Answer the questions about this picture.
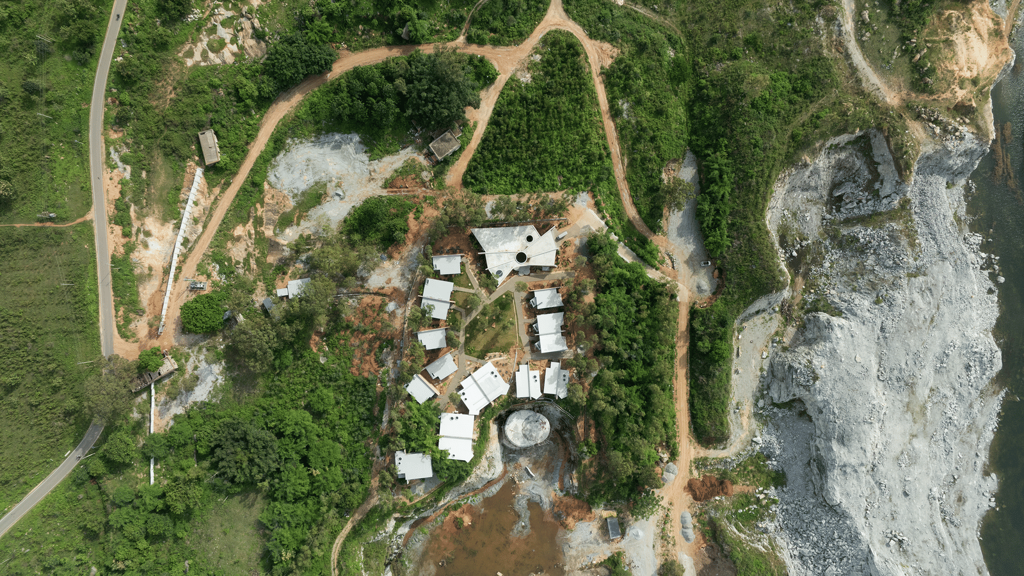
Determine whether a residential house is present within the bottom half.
Yes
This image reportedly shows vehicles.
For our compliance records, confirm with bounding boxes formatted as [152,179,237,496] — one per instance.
[701,261,711,266]
[556,232,567,240]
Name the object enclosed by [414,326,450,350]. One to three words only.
house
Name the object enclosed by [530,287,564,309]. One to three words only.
house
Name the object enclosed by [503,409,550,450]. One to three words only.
building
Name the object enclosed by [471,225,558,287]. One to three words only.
building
